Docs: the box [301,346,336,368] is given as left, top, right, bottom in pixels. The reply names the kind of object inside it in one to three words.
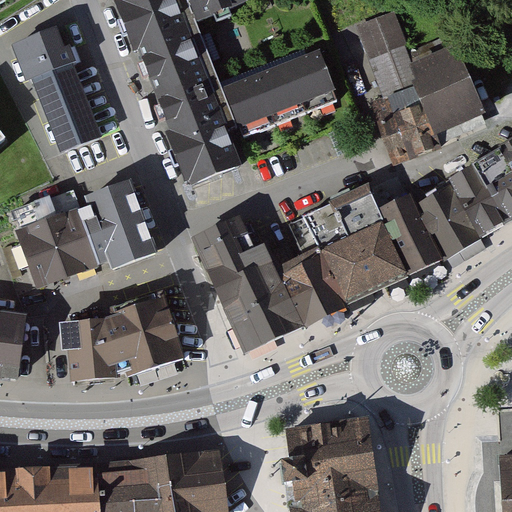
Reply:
truck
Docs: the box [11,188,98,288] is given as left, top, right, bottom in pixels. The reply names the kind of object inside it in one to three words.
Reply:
house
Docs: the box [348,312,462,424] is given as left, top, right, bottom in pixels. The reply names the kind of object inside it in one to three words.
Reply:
roundabout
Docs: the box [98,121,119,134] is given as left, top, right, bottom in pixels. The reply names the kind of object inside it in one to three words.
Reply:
vehicle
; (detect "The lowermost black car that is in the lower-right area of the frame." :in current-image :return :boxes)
[379,408,394,431]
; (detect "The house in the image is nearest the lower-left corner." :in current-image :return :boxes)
[0,464,104,512]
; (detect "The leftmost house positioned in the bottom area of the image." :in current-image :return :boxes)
[0,310,28,380]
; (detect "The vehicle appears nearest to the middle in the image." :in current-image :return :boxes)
[270,222,284,242]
